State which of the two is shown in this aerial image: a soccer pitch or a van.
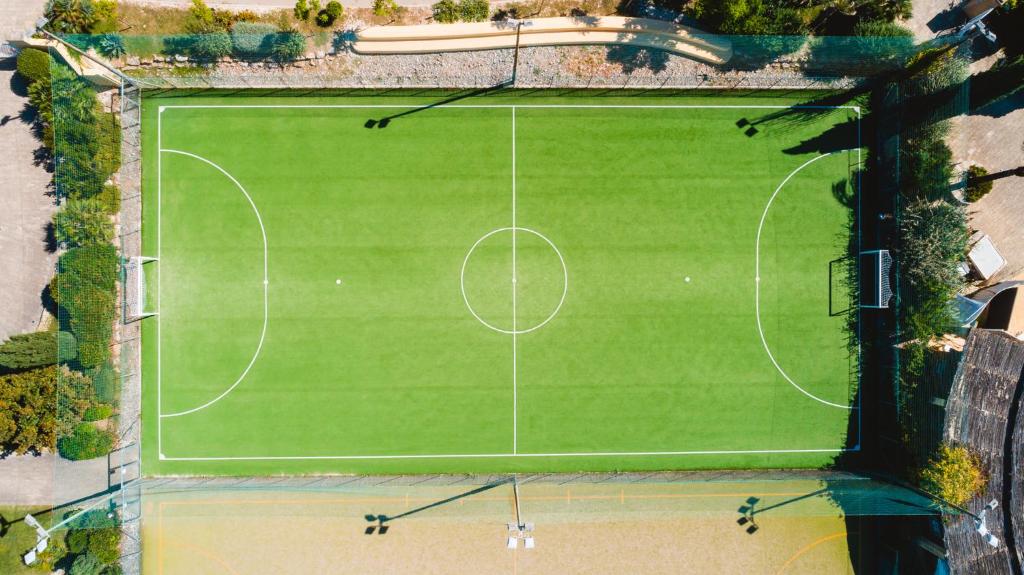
soccer pitch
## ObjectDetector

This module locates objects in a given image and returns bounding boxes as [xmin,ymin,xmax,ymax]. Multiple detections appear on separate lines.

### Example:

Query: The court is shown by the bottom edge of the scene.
[141,479,878,575]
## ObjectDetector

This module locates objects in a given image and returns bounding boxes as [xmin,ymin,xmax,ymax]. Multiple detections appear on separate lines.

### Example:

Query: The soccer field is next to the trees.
[141,87,877,475]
